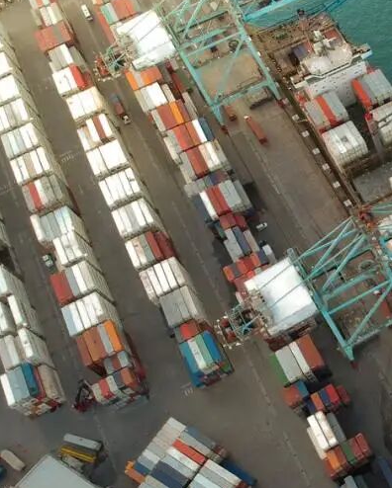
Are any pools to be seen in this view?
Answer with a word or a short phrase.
No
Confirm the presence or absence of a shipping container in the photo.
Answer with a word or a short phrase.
Yes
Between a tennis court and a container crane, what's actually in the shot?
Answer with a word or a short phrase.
container crane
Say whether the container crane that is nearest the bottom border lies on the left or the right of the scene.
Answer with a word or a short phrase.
right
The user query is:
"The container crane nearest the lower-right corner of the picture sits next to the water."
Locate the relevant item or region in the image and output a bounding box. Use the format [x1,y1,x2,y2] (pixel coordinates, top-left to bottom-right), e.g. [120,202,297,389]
[210,205,392,372]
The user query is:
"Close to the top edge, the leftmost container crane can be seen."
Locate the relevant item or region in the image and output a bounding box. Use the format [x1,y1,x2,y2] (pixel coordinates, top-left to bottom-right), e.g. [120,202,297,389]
[93,0,301,135]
